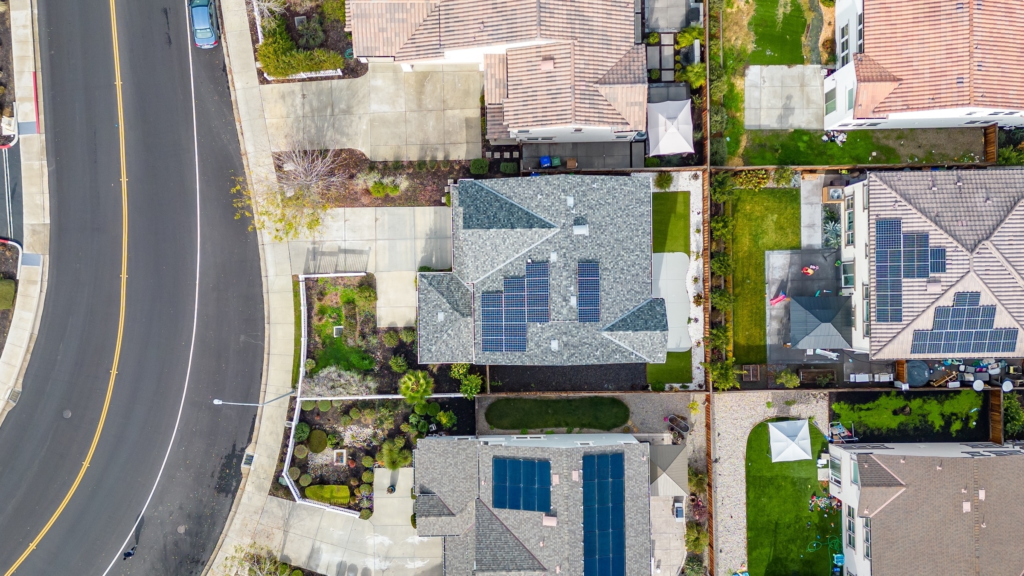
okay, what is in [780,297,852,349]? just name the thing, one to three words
gazebo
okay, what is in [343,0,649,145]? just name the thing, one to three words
house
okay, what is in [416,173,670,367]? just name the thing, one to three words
house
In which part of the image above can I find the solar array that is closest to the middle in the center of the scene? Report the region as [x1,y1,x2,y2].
[481,264,550,352]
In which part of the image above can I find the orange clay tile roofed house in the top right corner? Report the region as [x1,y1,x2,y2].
[824,0,1024,131]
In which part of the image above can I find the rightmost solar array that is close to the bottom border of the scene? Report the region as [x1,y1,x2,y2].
[582,452,623,576]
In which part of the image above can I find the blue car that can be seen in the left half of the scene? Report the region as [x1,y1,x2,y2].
[188,0,221,50]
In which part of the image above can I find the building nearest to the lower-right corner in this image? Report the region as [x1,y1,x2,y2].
[829,443,1024,576]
